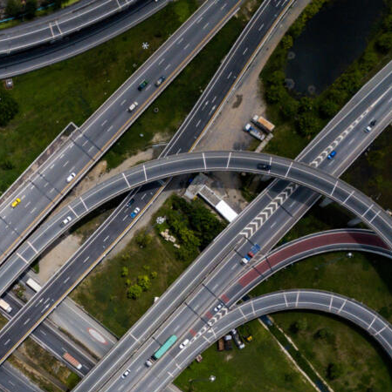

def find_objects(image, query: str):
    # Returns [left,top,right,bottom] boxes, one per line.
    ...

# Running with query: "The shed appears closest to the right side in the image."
[214,199,239,226]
